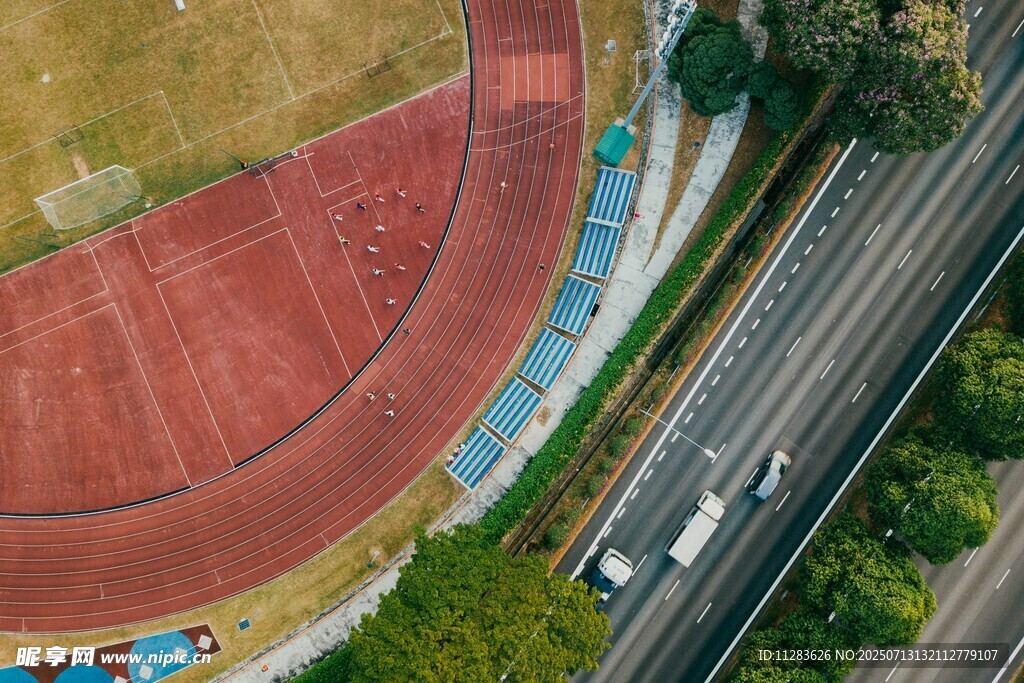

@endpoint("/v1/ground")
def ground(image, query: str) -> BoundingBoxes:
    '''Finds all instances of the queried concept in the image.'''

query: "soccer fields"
[0,0,469,275]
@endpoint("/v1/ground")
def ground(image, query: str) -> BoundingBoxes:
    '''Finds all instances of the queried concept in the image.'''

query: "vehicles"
[570,545,634,613]
[662,486,726,566]
[750,451,794,503]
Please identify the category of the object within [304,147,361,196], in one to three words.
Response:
sports court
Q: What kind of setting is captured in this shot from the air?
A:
sports ground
